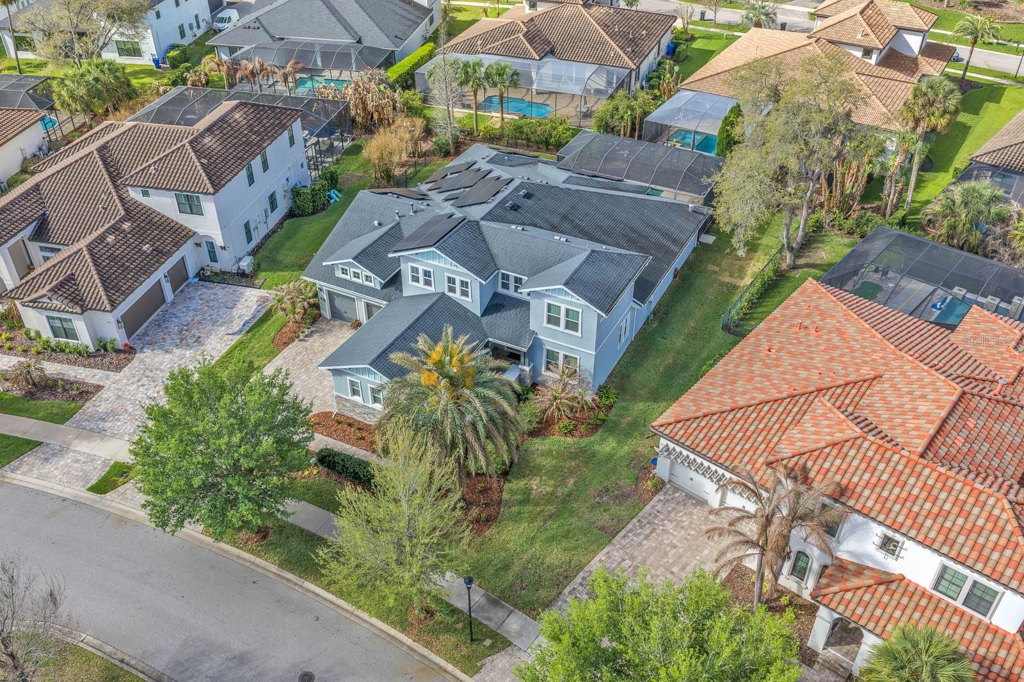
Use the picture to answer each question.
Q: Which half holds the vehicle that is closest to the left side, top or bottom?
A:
top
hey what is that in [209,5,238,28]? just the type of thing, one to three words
vehicle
